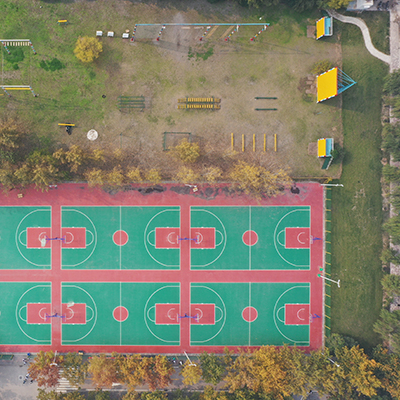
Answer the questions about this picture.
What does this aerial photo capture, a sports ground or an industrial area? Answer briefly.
sports ground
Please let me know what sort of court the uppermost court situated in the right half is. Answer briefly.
basketball court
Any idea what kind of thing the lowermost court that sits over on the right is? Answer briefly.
basketball court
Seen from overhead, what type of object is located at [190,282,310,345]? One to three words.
basketball court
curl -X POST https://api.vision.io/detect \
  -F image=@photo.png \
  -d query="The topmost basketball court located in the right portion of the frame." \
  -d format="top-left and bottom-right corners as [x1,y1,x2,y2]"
[190,206,310,269]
